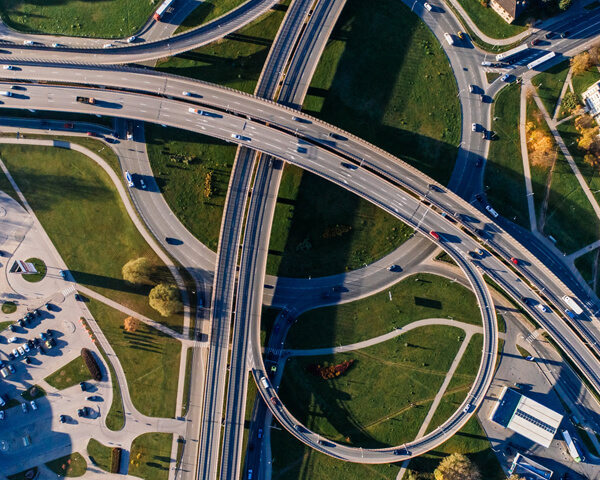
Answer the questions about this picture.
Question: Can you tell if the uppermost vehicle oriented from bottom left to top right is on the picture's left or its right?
left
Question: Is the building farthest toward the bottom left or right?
right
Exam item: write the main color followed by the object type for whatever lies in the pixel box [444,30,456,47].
white vehicle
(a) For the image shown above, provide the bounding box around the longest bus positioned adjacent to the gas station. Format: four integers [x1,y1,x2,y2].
[559,428,581,462]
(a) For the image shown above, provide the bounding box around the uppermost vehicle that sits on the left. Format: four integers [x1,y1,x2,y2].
[153,0,173,22]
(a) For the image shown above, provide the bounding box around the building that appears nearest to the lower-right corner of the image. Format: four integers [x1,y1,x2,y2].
[504,448,553,480]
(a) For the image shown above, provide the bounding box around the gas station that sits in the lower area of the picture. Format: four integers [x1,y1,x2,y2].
[486,383,562,448]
